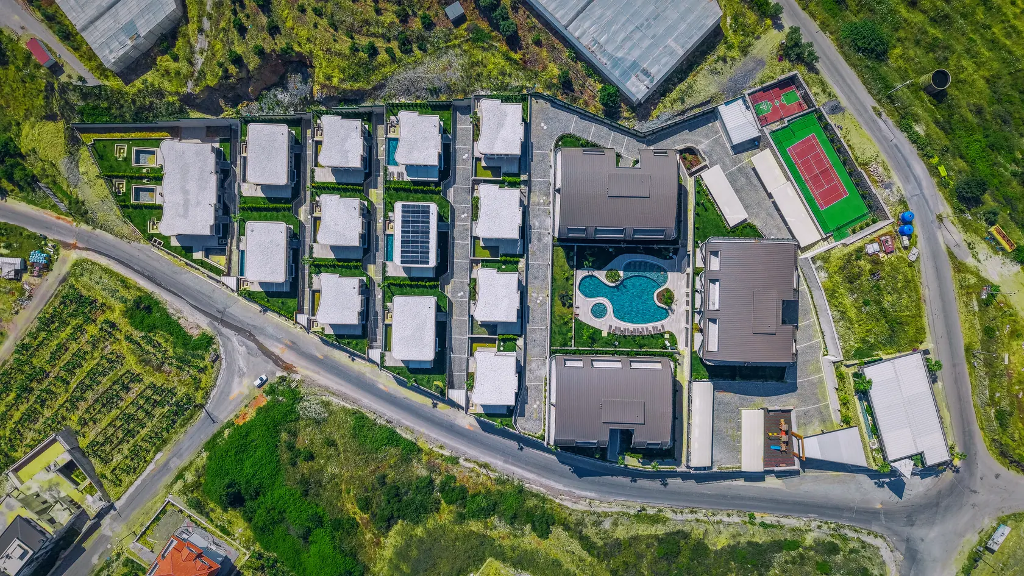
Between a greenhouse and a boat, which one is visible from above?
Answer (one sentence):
Visible in the photo is a greenhouse.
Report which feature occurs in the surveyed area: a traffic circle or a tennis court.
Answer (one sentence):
This aerial view contains a tennis court.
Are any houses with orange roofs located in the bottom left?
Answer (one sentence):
Yes, there is a house with an orange roof in the bottom left.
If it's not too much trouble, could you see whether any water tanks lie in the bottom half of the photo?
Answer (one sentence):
No, I see no water tank in the bottom half of the photo.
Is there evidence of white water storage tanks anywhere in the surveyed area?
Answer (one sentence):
No, no white water storage tank can be seen from above.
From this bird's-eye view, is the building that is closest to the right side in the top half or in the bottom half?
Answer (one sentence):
It is in the bottom half that the building that is closest to the right side appears.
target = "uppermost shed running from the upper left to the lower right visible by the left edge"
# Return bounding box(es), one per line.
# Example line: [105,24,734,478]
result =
[26,38,57,67]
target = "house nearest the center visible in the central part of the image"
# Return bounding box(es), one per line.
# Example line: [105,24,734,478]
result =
[474,268,520,324]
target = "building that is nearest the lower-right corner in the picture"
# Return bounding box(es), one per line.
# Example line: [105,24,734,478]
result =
[857,349,952,468]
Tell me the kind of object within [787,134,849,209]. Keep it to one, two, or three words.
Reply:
tennis court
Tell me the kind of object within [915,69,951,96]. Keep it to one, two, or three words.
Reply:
water tank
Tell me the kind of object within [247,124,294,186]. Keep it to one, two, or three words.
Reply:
house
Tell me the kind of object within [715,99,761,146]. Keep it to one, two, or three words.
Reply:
building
